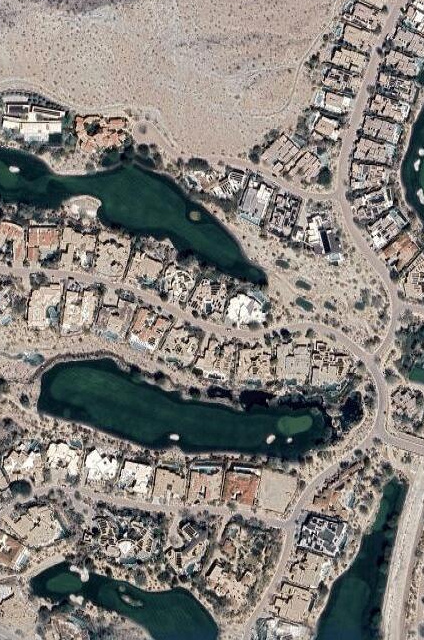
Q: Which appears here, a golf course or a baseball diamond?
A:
golf course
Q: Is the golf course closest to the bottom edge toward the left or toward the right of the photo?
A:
left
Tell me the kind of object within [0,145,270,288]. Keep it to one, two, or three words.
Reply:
golf course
